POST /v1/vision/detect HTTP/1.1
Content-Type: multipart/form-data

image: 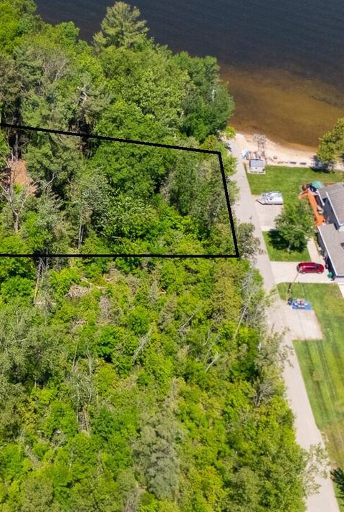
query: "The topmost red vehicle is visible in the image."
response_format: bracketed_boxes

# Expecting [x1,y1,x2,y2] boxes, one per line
[297,261,327,274]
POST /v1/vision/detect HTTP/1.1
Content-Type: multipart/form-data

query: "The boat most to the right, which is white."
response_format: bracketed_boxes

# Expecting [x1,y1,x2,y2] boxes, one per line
[259,192,287,206]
